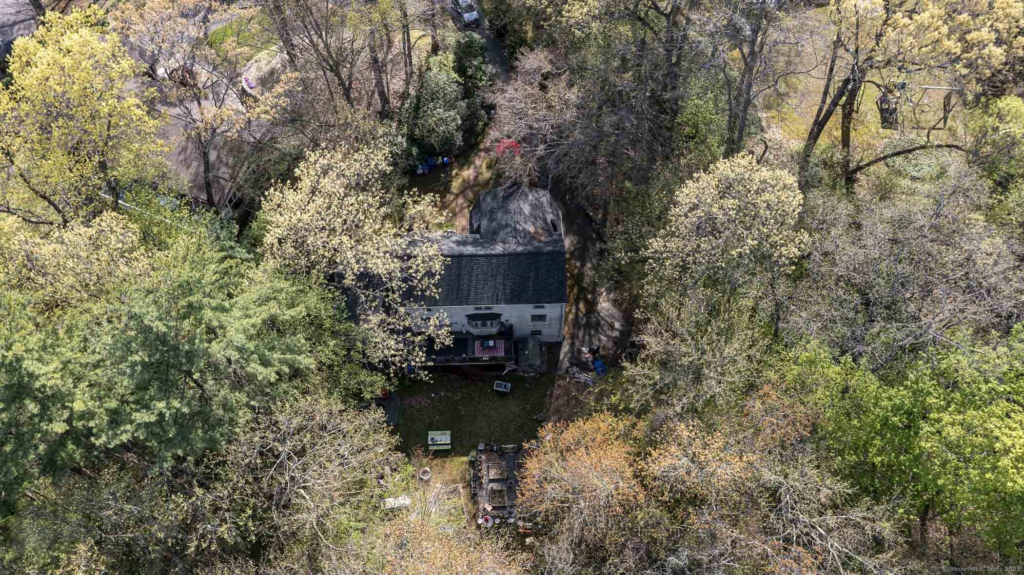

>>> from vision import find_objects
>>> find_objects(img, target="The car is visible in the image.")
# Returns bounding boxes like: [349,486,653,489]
[457,0,482,26]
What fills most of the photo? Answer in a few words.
trees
